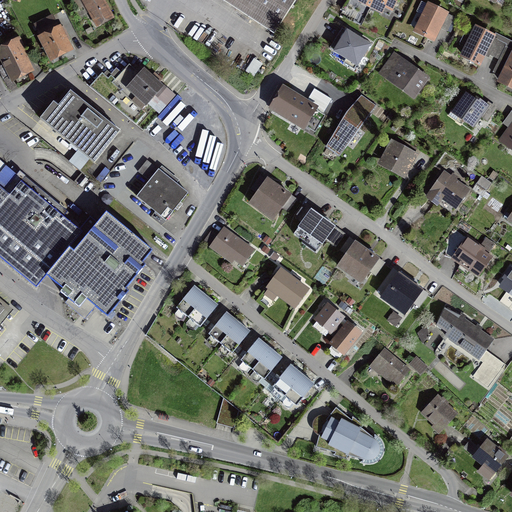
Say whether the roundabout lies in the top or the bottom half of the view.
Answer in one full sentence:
Seen from above, the roundabout lies in the bottom half of the view.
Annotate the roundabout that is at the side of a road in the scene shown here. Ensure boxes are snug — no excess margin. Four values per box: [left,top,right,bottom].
[52,386,123,457]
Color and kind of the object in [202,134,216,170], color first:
white vehicle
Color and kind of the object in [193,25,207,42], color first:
white vehicle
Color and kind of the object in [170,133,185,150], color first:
blue vehicle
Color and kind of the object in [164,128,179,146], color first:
blue vehicle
